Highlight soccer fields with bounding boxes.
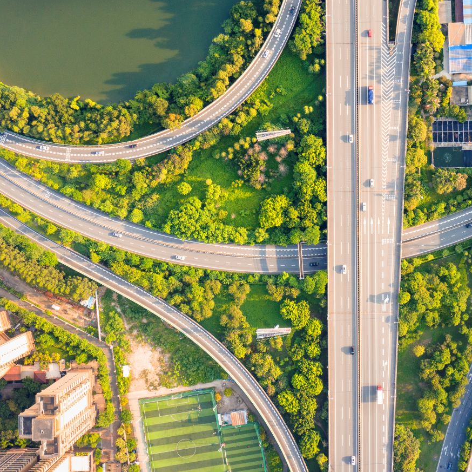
[222,424,265,472]
[143,391,226,472]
